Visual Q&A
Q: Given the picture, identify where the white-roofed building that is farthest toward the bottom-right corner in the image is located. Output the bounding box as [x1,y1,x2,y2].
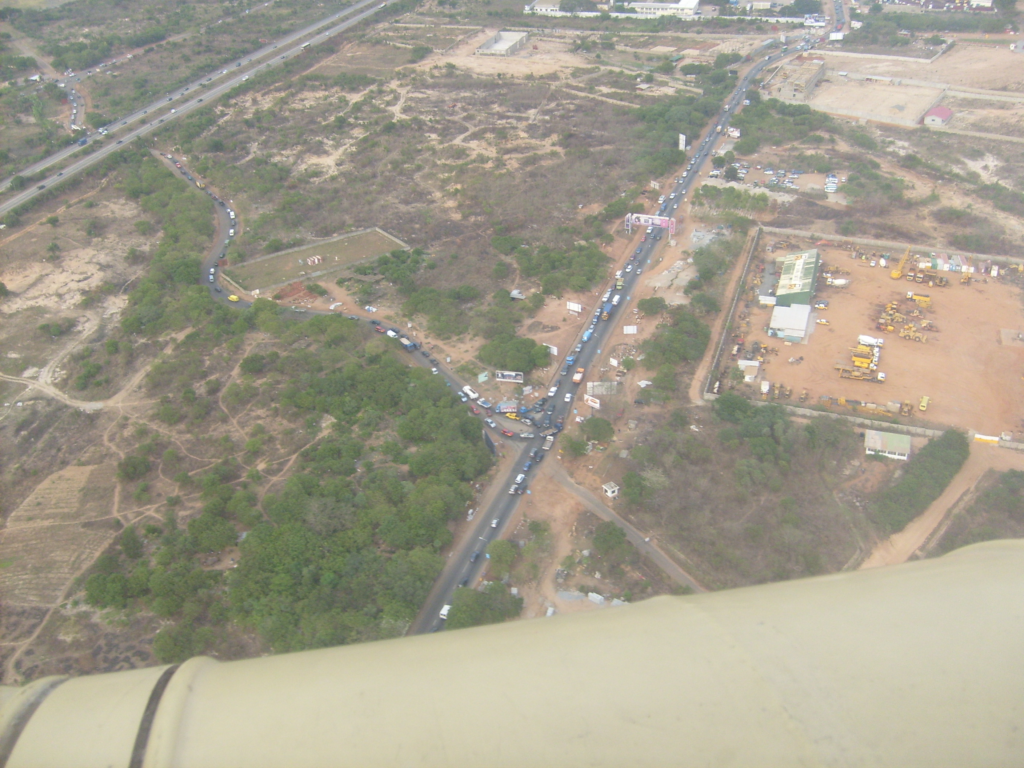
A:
[864,430,911,460]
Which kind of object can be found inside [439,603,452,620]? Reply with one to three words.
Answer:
vehicle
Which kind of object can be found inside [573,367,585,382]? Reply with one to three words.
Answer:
vehicle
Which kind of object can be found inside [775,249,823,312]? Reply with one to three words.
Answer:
building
